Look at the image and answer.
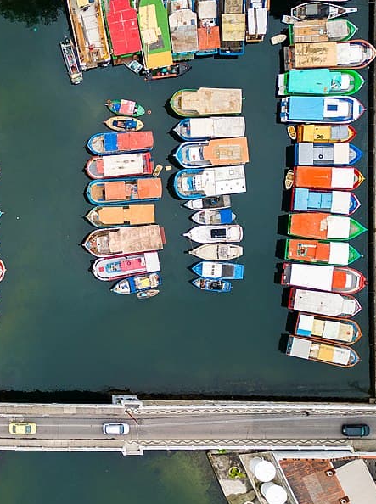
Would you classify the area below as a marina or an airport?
marina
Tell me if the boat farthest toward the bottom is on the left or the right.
right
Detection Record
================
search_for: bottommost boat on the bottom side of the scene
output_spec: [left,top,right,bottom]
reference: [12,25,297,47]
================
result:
[283,337,376,365]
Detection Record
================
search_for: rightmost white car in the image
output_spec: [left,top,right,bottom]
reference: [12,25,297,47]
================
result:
[101,422,130,436]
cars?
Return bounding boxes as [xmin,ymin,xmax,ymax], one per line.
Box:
[101,422,130,436]
[8,422,37,436]
[340,423,371,438]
